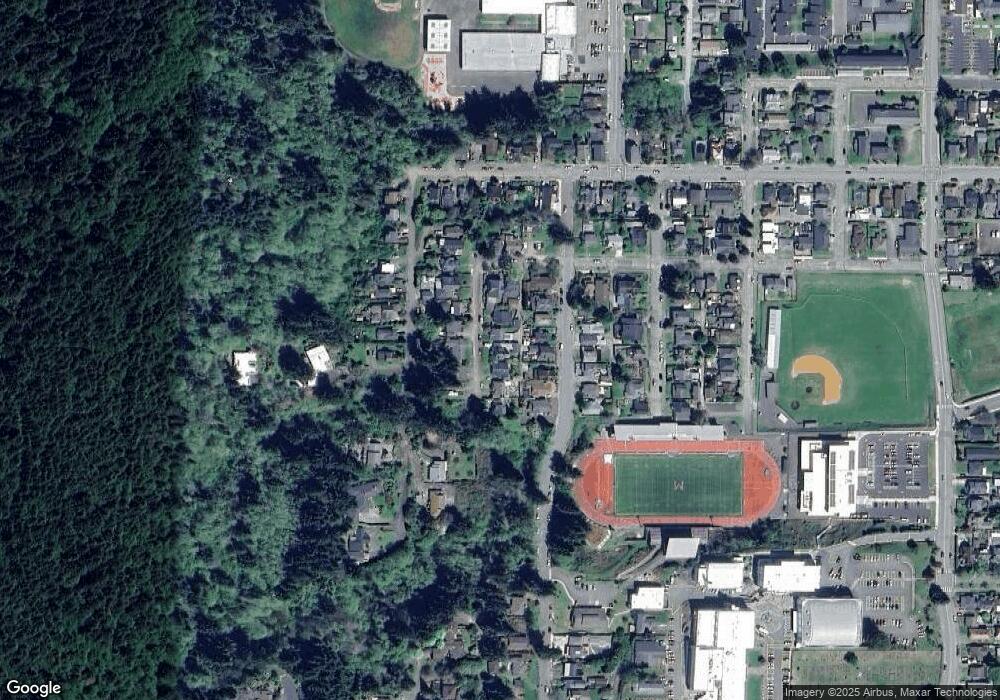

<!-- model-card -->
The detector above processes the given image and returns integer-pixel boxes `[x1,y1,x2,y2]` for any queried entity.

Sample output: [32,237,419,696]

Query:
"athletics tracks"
[575,438,781,528]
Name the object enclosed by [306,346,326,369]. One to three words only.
house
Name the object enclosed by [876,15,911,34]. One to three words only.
building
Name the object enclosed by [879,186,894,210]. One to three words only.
house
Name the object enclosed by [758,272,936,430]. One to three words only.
baseball field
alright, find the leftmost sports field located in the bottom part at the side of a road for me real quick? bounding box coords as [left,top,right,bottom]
[614,450,744,517]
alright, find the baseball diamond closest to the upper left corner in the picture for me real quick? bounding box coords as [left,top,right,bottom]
[323,0,423,67]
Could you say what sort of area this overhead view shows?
residential area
